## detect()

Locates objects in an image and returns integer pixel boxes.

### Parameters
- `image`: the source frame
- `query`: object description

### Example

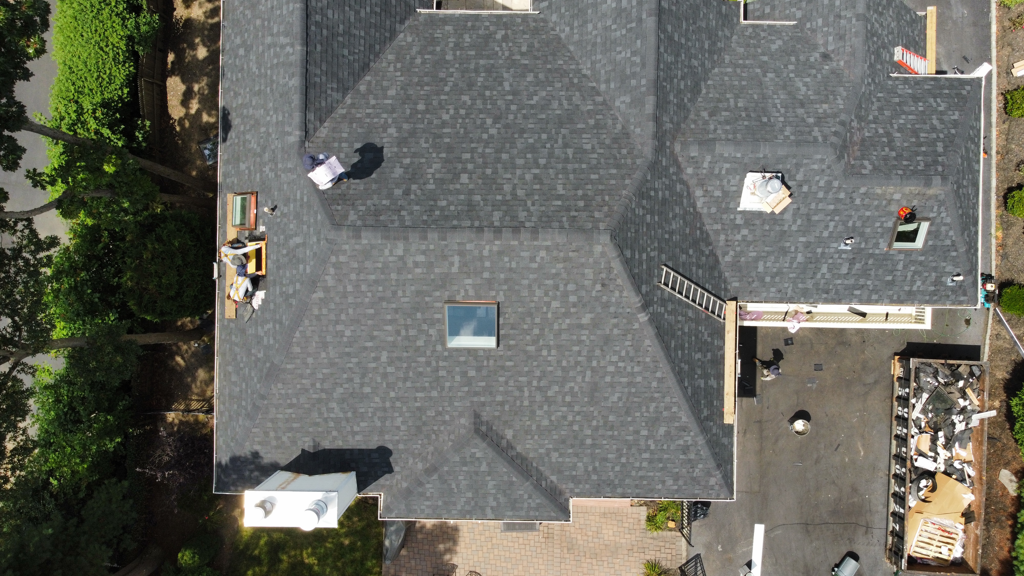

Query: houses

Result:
[214,0,996,531]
